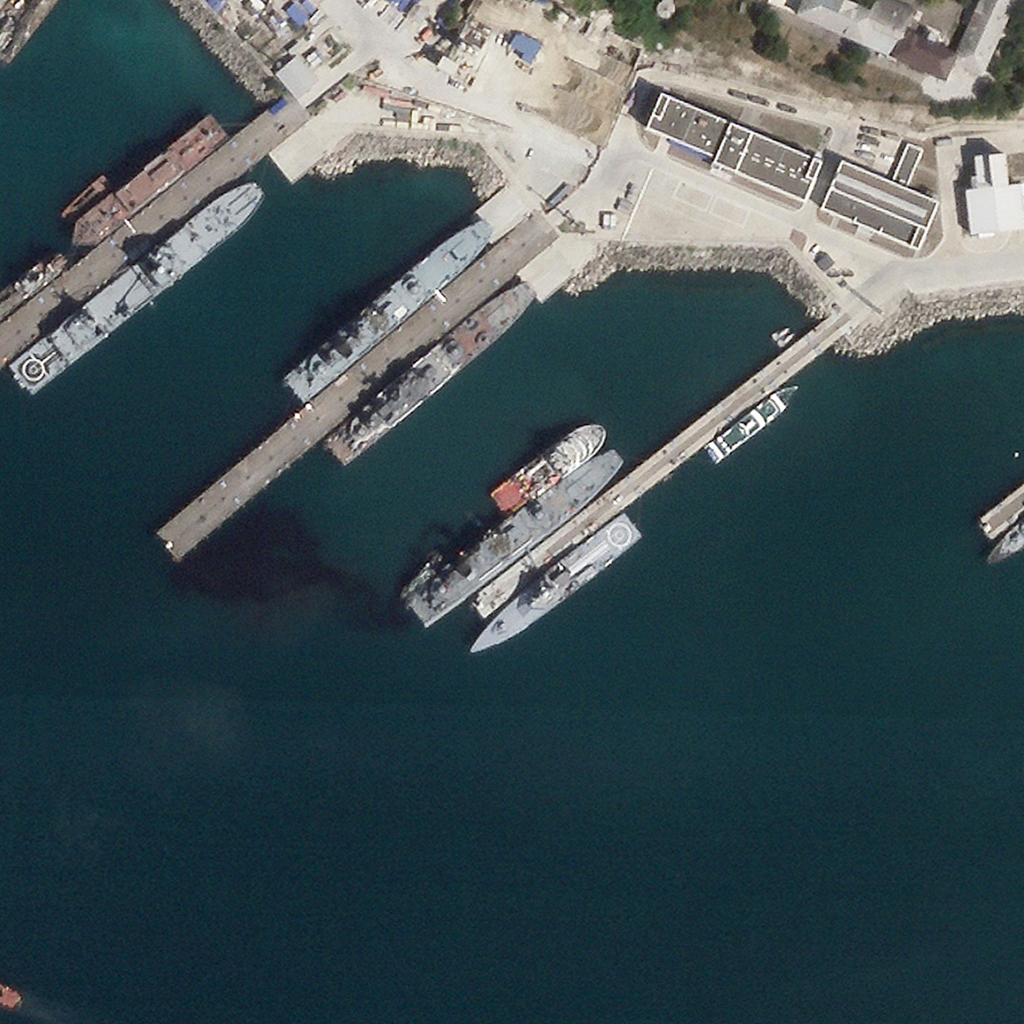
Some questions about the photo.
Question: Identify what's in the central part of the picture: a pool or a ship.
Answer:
ship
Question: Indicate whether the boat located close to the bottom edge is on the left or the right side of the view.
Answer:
left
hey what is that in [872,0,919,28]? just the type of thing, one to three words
house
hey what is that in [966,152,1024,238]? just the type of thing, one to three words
building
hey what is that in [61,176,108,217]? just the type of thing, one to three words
boat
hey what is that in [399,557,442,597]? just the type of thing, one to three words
ship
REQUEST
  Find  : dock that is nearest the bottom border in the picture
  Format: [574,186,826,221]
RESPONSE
[475,556,540,618]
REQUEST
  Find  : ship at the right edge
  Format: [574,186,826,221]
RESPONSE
[987,521,1024,563]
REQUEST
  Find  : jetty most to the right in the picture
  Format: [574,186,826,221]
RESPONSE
[980,484,1024,540]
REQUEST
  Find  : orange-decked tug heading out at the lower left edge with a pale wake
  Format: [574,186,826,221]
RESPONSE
[0,981,22,1008]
